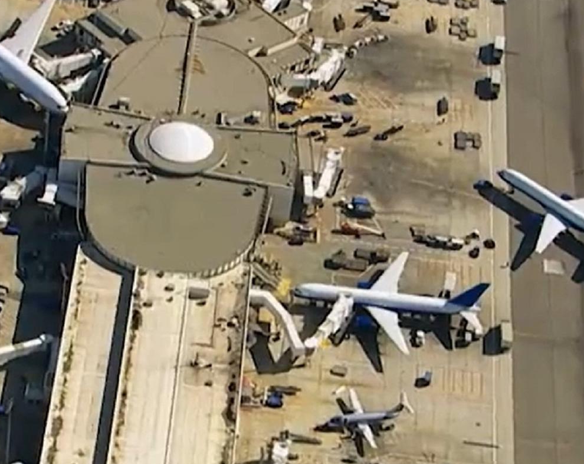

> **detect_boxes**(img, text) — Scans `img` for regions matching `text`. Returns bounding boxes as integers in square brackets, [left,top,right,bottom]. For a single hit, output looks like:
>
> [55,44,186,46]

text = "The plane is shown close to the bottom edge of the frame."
[316,381,419,447]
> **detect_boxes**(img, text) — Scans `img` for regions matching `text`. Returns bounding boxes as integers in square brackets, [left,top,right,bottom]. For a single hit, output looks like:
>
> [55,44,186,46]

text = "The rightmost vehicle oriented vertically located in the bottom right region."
[499,327,514,355]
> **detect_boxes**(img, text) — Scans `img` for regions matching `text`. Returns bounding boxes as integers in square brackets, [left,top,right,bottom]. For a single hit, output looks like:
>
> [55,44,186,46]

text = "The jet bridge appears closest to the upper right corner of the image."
[316,43,355,81]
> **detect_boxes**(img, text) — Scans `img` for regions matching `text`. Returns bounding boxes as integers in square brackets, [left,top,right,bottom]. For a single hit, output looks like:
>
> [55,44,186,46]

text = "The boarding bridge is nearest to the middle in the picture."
[300,144,346,215]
